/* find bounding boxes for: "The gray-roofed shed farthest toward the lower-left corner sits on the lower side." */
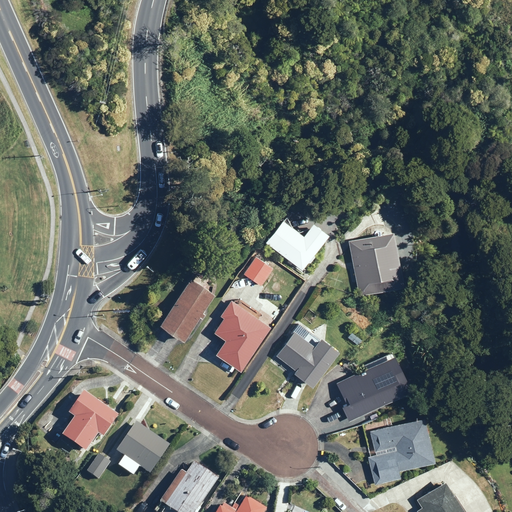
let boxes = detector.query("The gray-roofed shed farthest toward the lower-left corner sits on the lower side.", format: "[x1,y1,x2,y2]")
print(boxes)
[87,453,111,478]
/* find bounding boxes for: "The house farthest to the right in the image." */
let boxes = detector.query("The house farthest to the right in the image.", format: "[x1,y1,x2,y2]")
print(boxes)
[417,484,466,512]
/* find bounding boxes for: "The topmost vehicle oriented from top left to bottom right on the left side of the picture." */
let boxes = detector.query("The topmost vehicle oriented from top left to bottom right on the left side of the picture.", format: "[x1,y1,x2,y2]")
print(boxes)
[76,249,92,264]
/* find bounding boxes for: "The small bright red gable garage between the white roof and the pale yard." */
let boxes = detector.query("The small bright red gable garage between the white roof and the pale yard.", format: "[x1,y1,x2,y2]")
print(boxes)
[245,256,272,286]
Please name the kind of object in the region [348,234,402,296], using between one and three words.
house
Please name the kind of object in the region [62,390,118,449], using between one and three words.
house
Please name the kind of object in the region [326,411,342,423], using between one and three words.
vehicle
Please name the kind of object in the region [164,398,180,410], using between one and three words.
vehicle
